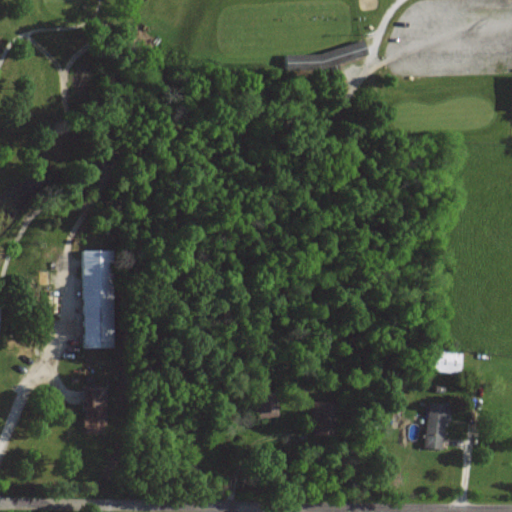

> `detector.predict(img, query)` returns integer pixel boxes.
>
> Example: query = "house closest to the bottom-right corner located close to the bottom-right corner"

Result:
[426,412,449,450]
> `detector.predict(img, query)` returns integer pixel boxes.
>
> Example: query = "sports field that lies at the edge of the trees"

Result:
[217,2,352,64]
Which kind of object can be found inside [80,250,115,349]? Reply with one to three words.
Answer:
barn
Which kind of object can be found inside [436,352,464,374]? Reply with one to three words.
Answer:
building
